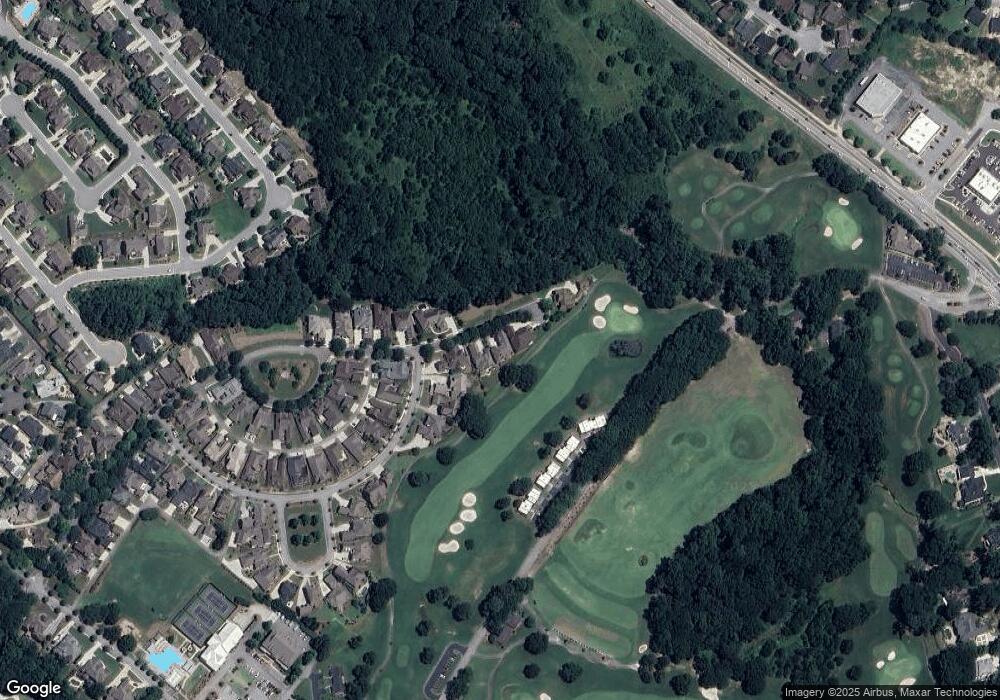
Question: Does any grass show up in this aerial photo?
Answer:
Yes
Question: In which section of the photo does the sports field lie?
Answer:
bottom left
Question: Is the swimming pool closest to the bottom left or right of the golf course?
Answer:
left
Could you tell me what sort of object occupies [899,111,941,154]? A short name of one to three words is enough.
building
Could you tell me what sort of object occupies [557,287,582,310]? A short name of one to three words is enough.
house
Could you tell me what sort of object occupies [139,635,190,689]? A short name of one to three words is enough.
swimming pool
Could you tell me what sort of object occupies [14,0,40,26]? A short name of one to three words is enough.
swimming pool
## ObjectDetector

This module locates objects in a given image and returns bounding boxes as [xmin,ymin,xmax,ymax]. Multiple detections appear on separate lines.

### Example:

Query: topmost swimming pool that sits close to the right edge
[937,466,957,482]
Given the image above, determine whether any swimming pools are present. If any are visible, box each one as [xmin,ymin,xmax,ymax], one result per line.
[14,0,40,26]
[944,624,956,643]
[937,466,957,482]
[139,635,190,689]
[96,145,116,165]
